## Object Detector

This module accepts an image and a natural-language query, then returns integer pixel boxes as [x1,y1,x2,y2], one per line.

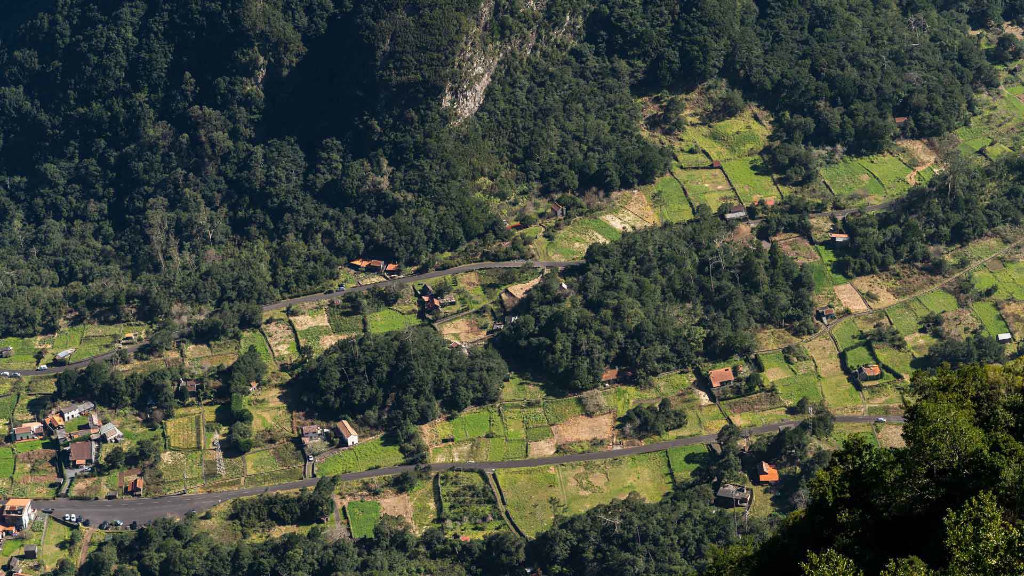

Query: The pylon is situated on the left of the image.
[211,432,226,479]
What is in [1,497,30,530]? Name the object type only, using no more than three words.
house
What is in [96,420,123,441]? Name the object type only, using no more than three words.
house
